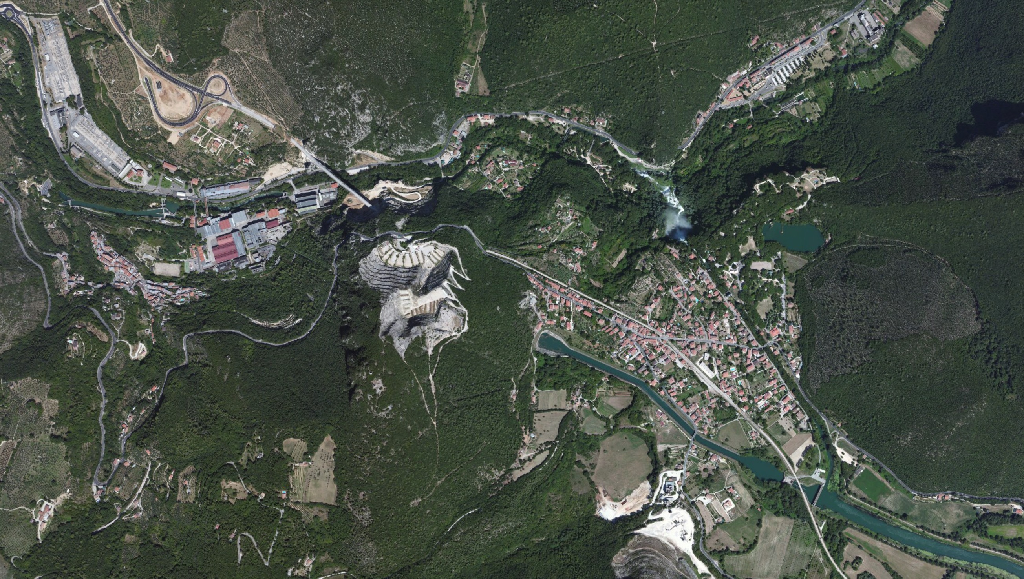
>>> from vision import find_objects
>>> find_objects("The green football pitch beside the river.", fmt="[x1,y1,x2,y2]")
[854,468,891,503]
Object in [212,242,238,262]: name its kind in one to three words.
building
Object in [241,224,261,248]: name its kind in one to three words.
building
